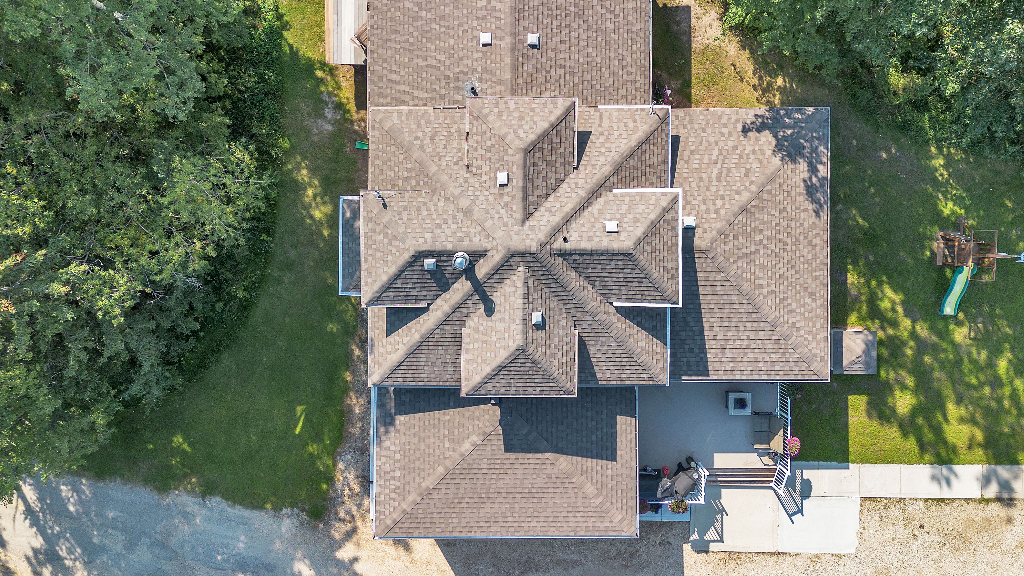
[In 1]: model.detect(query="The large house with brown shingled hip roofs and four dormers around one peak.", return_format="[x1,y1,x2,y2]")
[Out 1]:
[340,0,830,539]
